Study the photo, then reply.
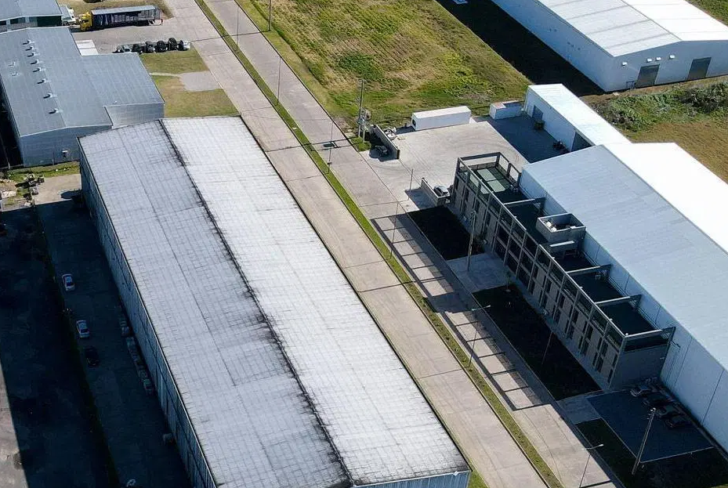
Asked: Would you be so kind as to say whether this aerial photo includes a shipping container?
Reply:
Yes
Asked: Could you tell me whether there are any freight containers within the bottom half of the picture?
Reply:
No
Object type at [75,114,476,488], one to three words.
warehouse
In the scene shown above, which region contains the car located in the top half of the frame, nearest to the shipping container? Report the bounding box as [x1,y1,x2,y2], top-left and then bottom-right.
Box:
[372,133,393,151]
